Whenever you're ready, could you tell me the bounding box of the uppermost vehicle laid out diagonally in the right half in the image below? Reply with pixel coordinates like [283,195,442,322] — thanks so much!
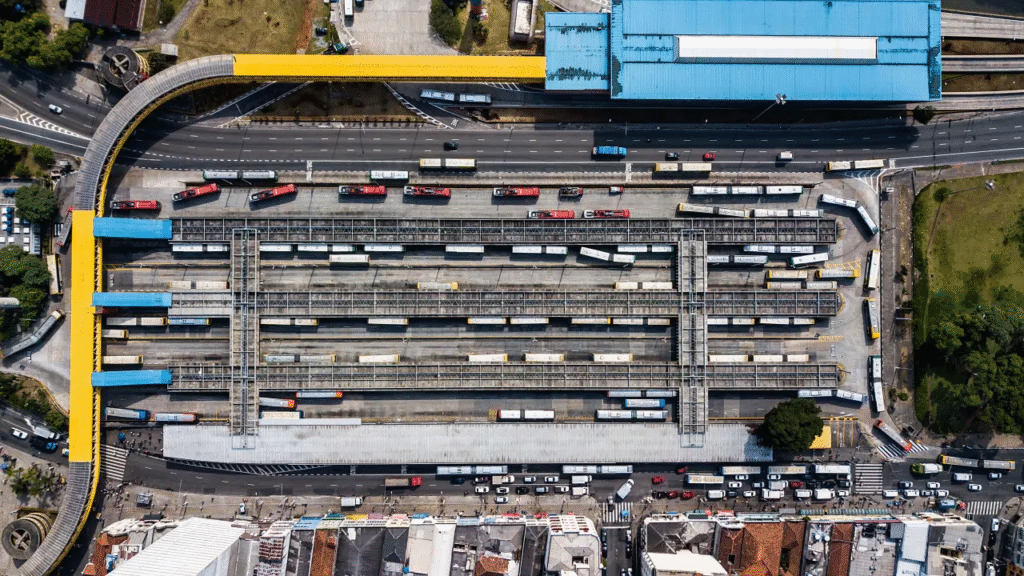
[816,193,879,235]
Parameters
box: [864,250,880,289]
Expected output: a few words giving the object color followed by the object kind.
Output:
white vehicle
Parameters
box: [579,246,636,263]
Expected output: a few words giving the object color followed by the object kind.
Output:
white vehicle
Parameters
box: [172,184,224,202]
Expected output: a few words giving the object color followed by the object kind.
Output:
red vehicle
